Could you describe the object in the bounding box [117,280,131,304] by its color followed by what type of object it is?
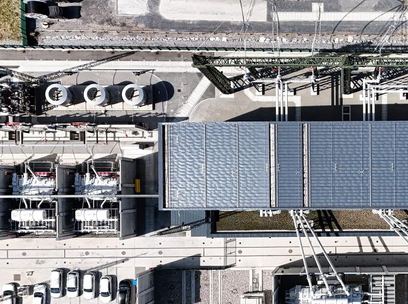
black vehicle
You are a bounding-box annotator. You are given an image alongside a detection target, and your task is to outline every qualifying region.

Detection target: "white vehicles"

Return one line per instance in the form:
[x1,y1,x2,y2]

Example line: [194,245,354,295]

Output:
[66,270,80,297]
[83,272,98,300]
[99,275,114,302]
[32,283,47,304]
[50,268,65,298]
[2,282,17,304]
